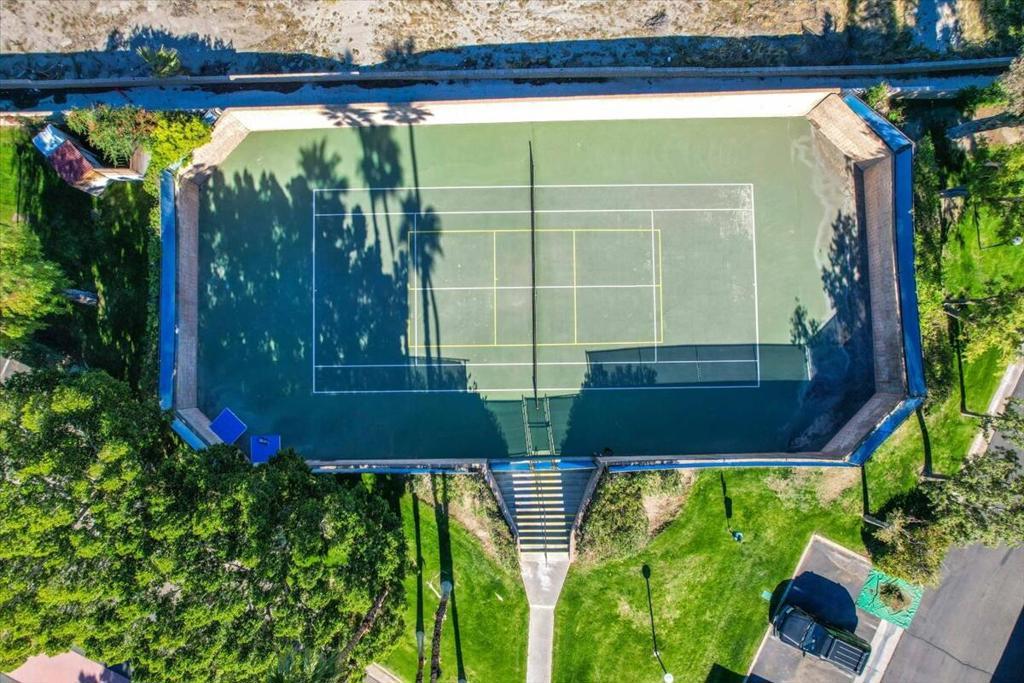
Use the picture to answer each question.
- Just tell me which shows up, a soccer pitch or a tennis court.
tennis court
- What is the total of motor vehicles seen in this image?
1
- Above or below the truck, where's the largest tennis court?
above it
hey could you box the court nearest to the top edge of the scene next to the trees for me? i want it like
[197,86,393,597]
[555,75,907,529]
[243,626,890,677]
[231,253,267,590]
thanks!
[196,117,875,462]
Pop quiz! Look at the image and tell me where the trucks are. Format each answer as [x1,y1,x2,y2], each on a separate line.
[764,595,880,681]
